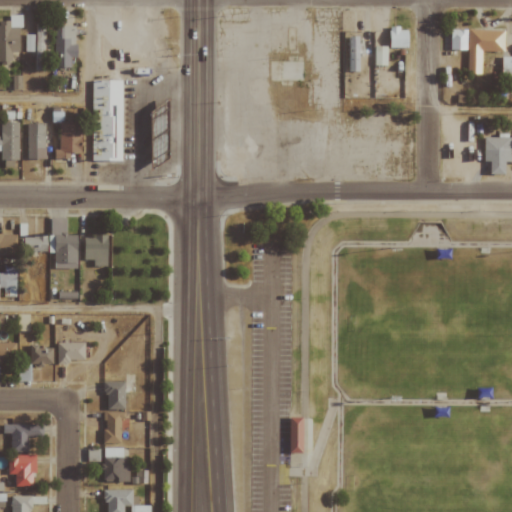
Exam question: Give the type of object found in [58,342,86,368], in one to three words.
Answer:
house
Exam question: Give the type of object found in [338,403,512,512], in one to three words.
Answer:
sports field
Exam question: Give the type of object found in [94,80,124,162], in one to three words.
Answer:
building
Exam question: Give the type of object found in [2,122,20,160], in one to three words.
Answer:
house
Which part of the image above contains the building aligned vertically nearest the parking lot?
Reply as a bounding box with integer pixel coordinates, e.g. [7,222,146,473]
[290,418,304,454]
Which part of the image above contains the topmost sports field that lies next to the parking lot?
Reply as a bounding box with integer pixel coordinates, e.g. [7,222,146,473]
[334,244,512,402]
